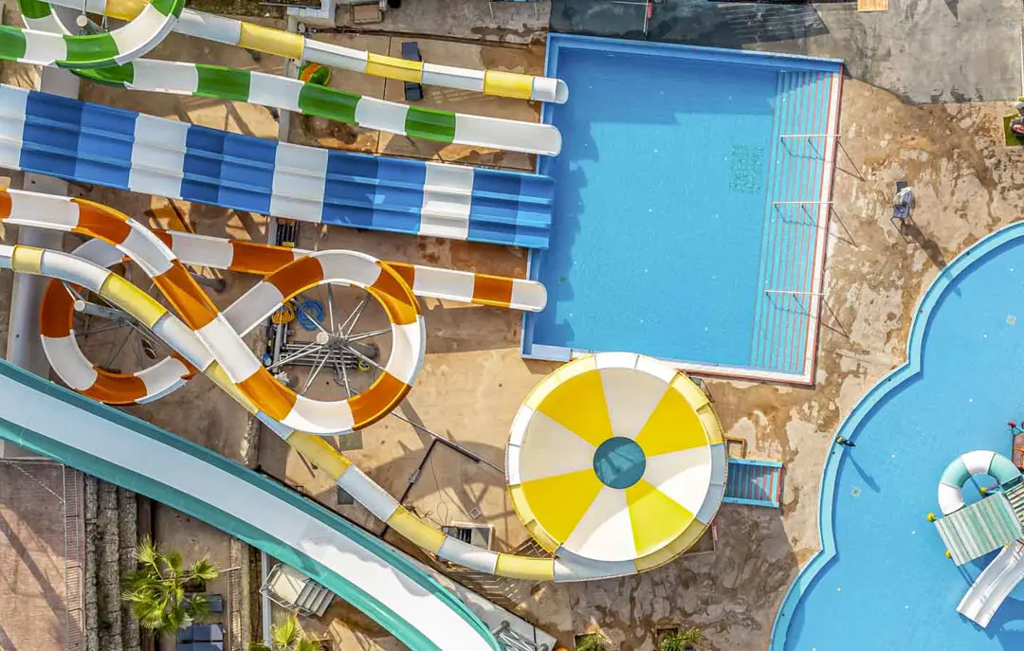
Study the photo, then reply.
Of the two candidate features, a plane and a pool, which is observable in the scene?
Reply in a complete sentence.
The one in the frame is a pool.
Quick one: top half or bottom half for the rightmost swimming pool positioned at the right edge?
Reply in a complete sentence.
The rightmost swimming pool positioned at the right edge is in the bottom half of the image.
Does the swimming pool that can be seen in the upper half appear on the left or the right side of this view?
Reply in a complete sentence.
The swimming pool that can be seen in the upper half sits on the right side.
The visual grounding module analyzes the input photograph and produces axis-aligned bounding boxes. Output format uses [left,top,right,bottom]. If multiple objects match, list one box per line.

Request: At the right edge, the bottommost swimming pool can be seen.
[771,222,1024,651]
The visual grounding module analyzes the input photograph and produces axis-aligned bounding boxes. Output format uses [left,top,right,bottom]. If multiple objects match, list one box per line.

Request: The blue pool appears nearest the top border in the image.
[521,28,843,384]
